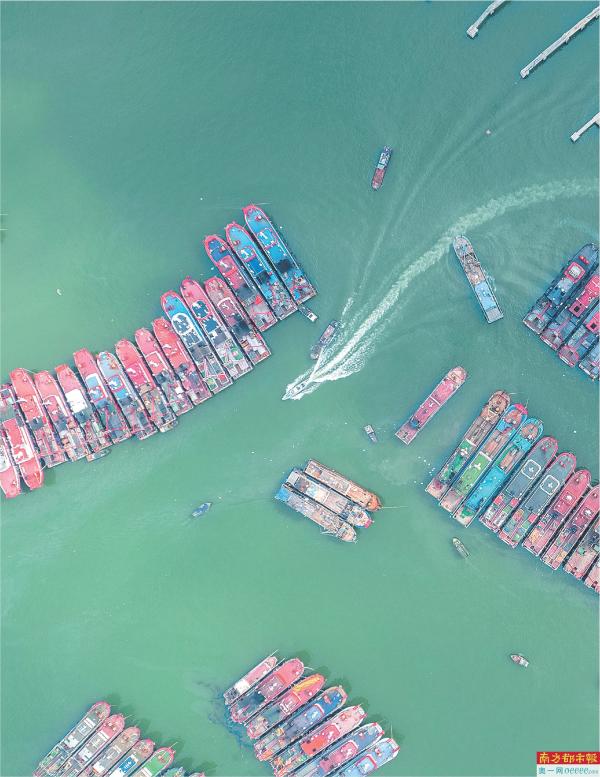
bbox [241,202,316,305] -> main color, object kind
blue boat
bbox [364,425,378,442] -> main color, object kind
white boat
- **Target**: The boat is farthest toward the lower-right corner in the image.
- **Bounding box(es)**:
[511,653,529,668]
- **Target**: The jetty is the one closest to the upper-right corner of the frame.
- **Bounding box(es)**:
[517,8,600,79]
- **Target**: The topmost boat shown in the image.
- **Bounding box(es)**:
[369,145,393,190]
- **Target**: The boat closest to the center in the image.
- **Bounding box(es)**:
[284,381,307,398]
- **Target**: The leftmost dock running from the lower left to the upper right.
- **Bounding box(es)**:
[466,0,508,39]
